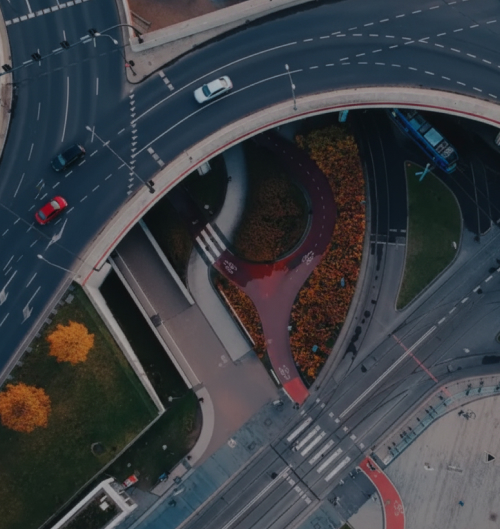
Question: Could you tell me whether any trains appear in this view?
Yes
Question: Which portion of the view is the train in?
top right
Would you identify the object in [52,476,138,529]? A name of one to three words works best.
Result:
building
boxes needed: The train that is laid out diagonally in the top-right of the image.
[392,110,462,171]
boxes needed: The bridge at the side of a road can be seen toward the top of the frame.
[0,0,500,389]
